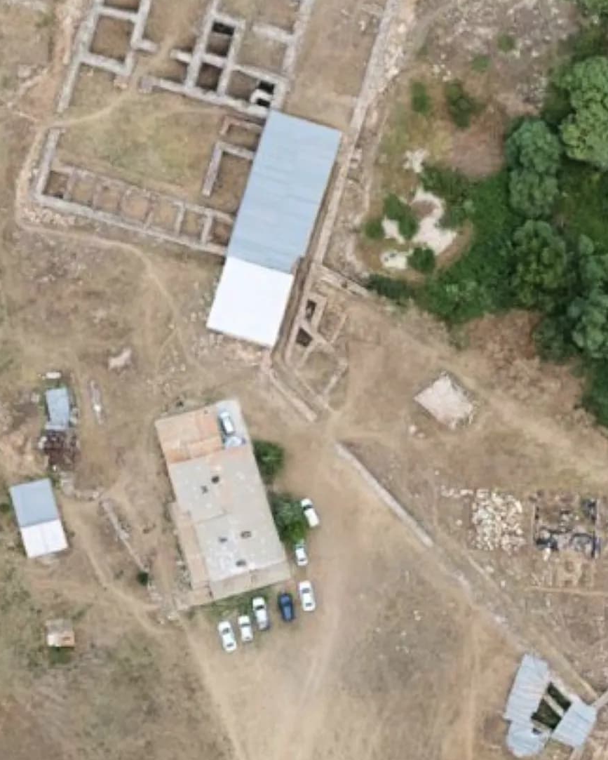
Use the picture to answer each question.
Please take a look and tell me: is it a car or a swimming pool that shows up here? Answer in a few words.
car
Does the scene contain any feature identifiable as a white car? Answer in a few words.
Yes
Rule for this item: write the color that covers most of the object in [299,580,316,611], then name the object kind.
white car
